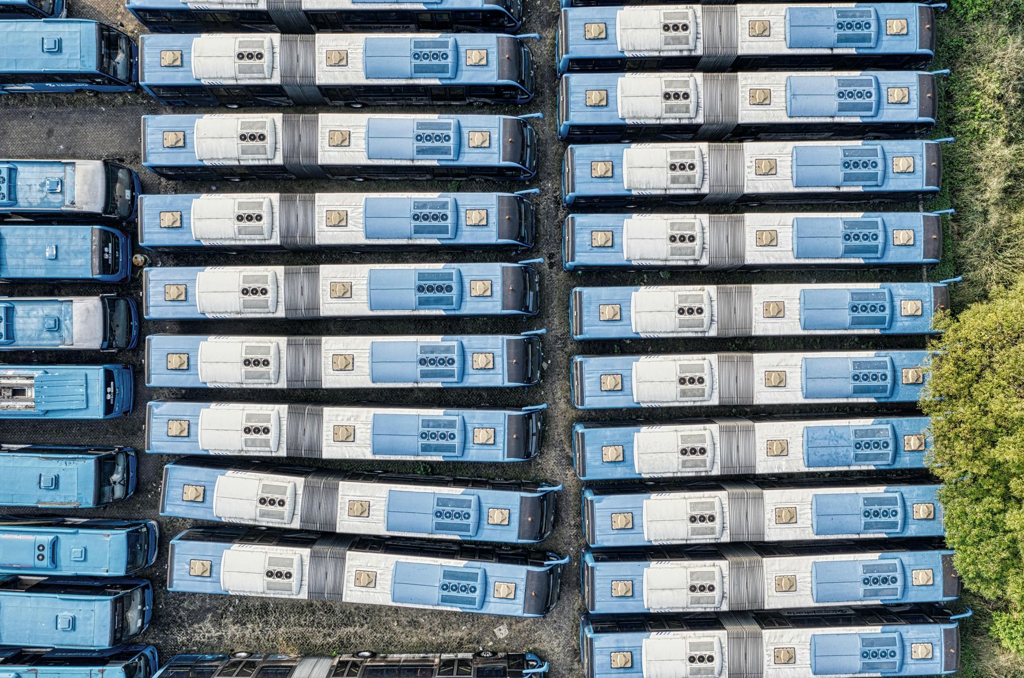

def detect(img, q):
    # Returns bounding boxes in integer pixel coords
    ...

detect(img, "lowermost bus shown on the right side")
[576,601,980,678]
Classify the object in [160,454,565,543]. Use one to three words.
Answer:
bus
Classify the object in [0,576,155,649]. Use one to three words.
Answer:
bus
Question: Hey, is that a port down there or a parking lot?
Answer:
parking lot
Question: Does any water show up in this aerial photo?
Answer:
No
